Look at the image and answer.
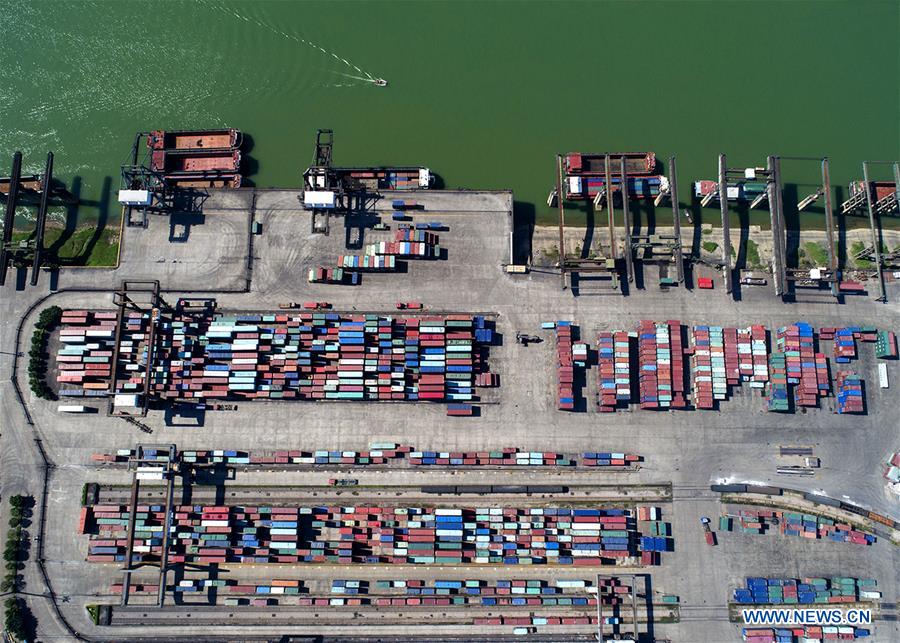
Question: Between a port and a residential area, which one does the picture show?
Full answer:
This image shows a port.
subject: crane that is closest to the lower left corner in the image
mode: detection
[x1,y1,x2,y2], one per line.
[119,444,194,606]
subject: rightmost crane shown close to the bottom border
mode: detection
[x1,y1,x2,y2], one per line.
[586,573,640,643]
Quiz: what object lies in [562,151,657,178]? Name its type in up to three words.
ship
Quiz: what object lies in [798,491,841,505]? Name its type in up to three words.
rail car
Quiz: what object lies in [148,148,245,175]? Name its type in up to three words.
ship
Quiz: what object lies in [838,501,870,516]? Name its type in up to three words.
rail car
